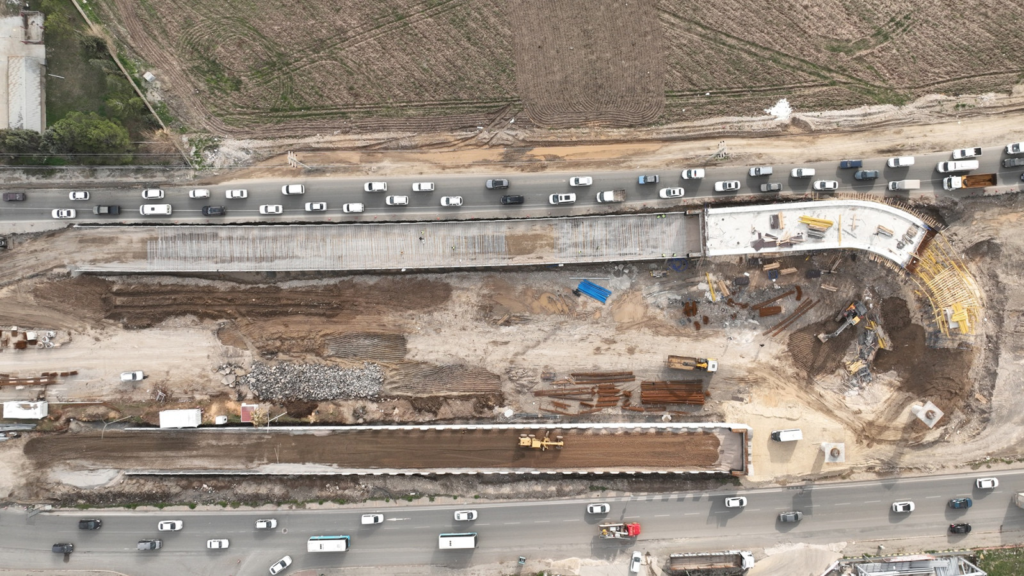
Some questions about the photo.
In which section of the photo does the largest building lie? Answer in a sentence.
Look in the top left portion of the view to spot the largest building.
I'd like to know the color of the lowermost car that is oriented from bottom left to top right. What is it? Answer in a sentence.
From above, the lowermost car that is oriented from bottom left to top right appears white.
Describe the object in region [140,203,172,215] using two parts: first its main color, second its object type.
white vehicle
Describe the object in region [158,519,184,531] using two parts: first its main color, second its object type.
white vehicle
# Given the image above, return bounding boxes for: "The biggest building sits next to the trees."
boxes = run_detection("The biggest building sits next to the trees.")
[7,55,45,136]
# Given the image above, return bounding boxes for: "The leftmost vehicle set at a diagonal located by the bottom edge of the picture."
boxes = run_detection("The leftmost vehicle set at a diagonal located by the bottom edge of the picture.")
[268,555,292,576]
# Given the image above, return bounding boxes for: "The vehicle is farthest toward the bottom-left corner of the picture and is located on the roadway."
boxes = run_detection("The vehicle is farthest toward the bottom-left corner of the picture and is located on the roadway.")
[52,542,75,554]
